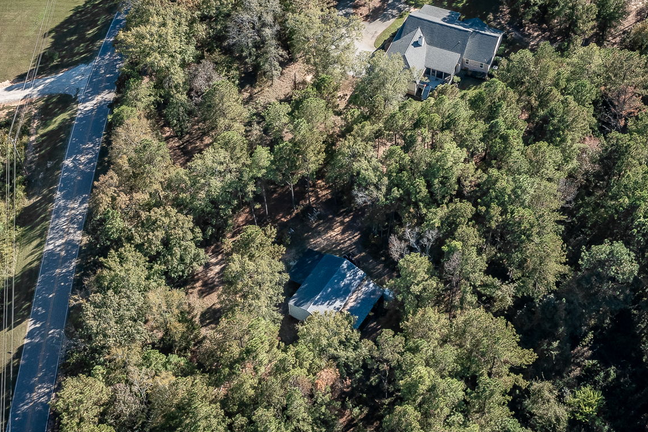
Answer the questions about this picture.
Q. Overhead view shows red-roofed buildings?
No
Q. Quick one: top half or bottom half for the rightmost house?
top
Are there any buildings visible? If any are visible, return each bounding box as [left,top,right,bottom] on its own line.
[378,3,505,90]
[282,243,385,336]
